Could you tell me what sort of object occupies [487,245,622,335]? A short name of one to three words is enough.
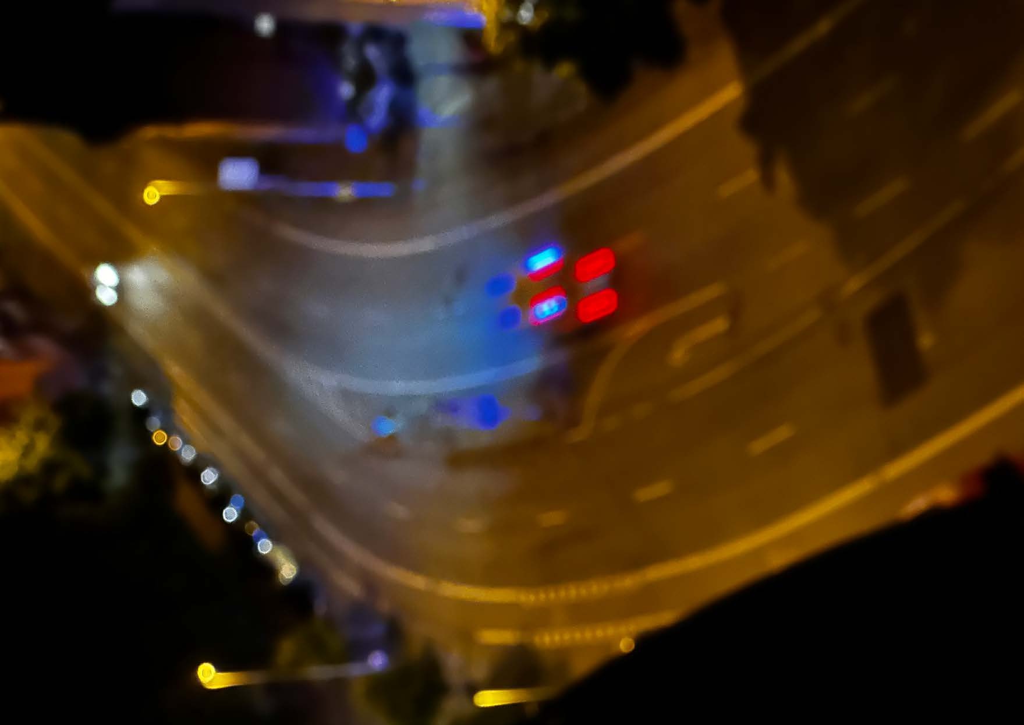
truck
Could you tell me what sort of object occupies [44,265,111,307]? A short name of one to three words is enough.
car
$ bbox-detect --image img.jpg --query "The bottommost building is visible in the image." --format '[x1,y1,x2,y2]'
[551,466,1024,725]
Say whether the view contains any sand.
No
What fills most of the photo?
paved ground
